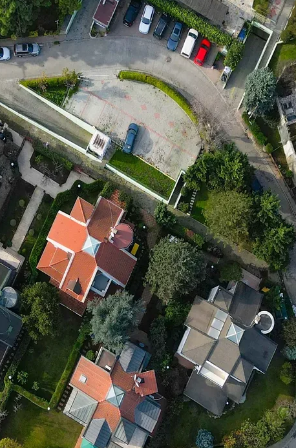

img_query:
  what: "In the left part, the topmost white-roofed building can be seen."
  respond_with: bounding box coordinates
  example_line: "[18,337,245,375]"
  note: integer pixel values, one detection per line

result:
[87,130,110,162]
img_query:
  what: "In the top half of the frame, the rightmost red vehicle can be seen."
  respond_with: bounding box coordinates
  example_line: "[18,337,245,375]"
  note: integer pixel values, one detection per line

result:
[192,38,211,68]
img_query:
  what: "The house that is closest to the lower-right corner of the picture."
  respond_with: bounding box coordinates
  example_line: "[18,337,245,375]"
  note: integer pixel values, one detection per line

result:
[176,282,279,415]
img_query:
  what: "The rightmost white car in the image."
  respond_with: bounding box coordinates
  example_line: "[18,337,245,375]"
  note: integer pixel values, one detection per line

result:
[179,29,198,60]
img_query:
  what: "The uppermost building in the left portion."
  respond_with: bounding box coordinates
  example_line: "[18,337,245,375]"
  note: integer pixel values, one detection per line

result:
[92,0,118,32]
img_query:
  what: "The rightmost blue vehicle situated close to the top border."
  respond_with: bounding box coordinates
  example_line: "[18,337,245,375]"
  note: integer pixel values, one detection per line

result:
[166,21,184,50]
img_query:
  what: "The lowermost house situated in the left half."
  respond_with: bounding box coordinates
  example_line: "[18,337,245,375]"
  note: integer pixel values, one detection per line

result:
[64,342,165,448]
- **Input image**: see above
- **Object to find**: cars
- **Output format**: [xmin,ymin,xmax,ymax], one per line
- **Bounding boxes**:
[0,45,11,61]
[11,41,41,59]
[121,0,142,27]
[166,21,184,50]
[192,38,211,68]
[122,122,138,152]
[137,3,156,34]
[152,12,170,40]
[179,29,198,60]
